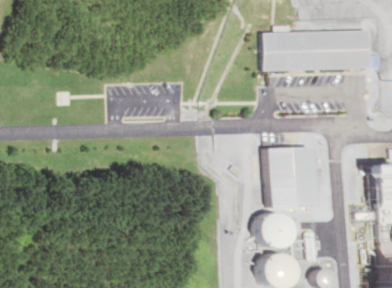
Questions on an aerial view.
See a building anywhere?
Yes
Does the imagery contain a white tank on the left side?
No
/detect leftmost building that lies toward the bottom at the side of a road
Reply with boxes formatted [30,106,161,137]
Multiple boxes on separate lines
[260,146,320,207]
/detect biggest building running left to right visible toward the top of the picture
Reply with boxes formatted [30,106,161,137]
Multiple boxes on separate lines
[257,30,372,72]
